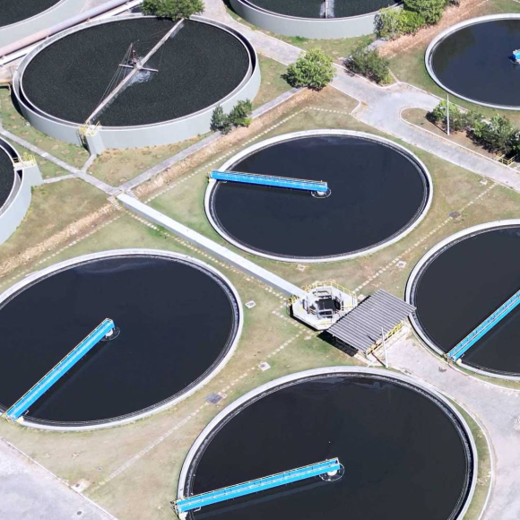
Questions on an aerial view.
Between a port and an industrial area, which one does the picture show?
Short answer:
industrial area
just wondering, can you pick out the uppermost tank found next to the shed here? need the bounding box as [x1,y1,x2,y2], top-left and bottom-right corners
[203,129,433,263]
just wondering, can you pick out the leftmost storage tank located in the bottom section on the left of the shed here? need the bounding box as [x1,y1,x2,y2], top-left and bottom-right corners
[0,250,241,430]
